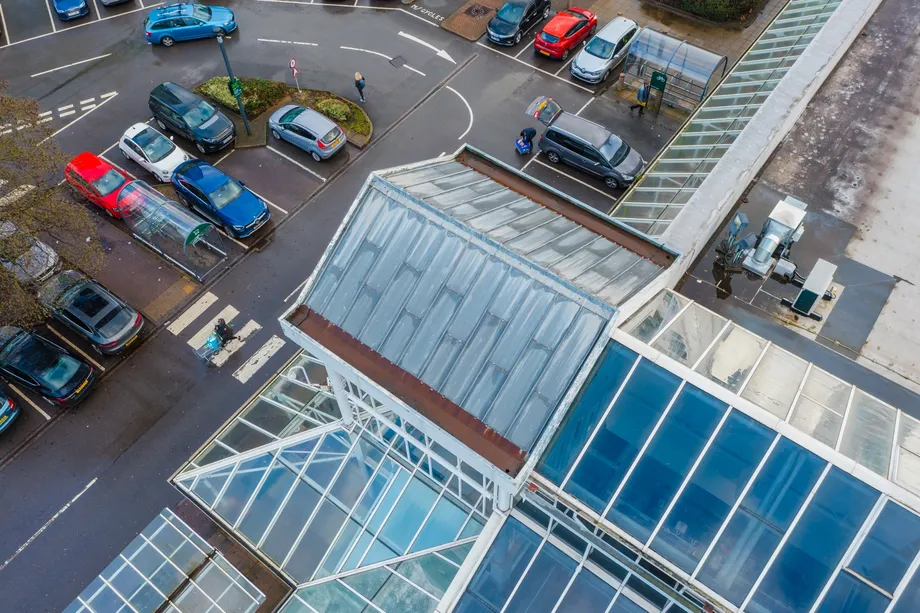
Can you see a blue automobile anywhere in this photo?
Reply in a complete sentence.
Yes, there's a blue automobile down there.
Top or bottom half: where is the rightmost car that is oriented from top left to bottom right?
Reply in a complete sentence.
It is in the top half that the rightmost car that is oriented from top left to bottom right appears.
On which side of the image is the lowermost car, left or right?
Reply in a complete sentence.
The lowermost car sits on the left side.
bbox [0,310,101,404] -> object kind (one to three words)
car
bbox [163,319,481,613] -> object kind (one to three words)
building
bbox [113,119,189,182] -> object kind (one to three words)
car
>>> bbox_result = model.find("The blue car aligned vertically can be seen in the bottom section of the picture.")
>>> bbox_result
[0,387,21,432]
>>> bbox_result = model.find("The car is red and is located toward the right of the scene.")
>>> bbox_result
[534,6,598,60]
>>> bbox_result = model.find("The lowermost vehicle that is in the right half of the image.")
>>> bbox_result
[527,99,649,189]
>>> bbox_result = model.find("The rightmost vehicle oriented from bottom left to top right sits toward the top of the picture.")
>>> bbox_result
[571,13,642,84]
